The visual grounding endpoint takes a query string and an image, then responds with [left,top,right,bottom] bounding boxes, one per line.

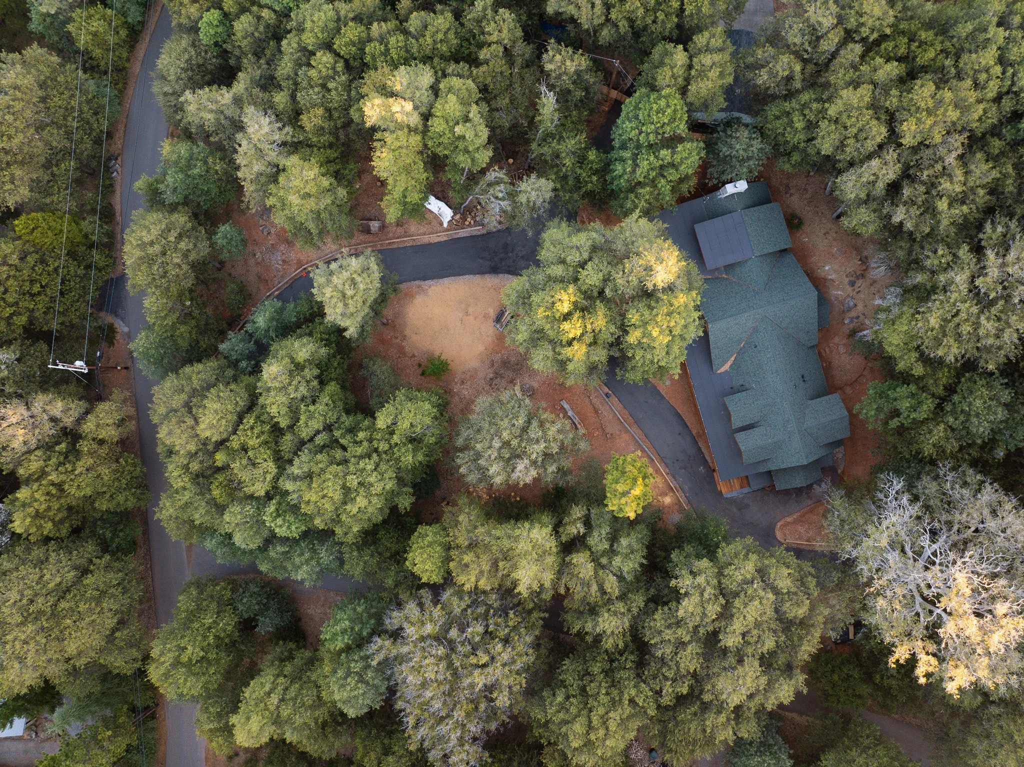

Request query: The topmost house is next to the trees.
[647,181,849,492]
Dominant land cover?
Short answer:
trees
